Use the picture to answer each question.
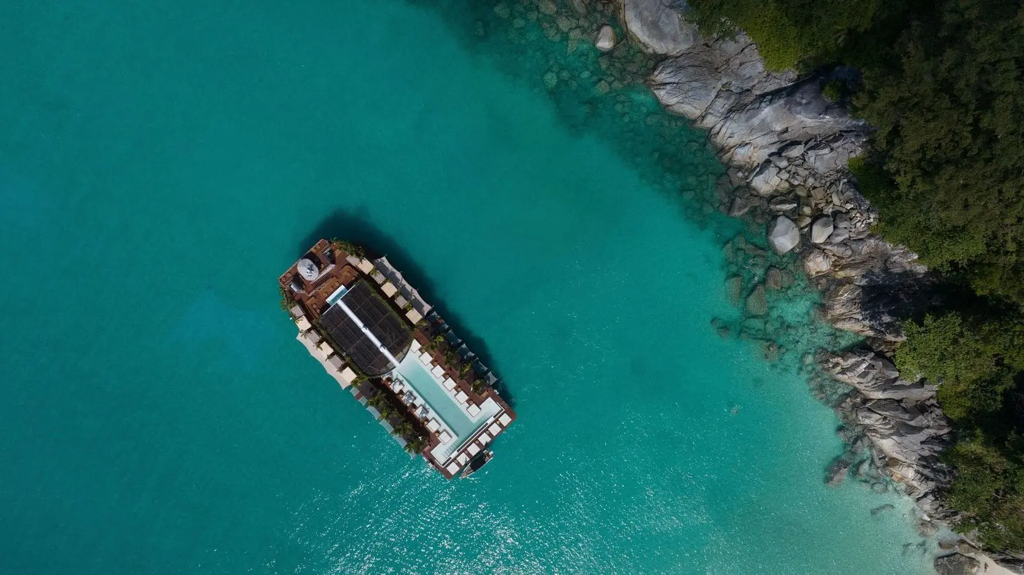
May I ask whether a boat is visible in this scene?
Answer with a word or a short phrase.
Yes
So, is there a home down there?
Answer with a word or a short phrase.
No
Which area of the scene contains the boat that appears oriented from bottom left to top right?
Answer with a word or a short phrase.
bottom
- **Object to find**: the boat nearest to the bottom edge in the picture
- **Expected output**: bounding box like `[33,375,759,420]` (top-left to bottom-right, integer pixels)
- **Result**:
[459,450,495,479]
